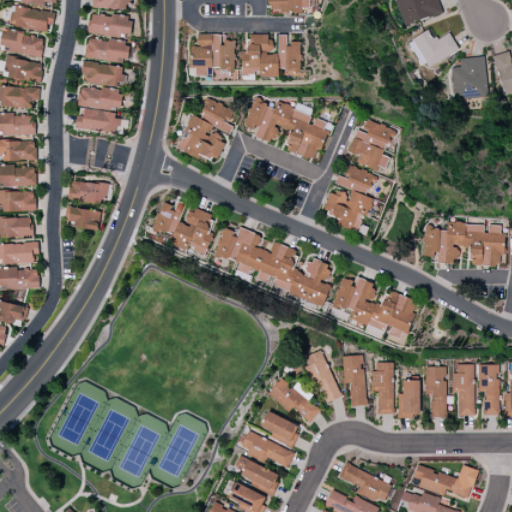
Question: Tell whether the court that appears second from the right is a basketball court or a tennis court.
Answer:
tennis court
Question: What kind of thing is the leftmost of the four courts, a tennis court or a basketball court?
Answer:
tennis court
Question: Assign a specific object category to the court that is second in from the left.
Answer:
tennis court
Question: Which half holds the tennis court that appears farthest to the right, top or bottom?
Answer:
bottom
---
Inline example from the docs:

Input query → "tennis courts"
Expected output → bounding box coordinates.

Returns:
[111,412,169,488]
[150,412,208,487]
[81,397,138,471]
[52,380,108,455]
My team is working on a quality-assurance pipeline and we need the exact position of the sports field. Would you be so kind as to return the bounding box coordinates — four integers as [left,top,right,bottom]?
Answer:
[76,267,268,432]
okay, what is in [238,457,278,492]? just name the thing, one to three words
house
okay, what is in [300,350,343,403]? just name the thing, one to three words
house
